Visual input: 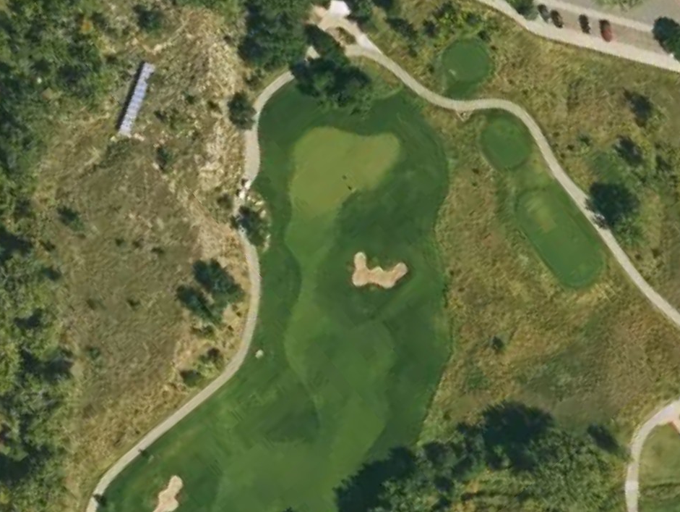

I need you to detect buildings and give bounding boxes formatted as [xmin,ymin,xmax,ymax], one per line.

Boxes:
[119,61,157,136]
[329,0,350,17]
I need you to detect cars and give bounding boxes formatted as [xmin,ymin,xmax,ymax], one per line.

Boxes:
[539,3,551,23]
[601,20,612,41]
[551,9,564,28]
[579,14,591,33]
